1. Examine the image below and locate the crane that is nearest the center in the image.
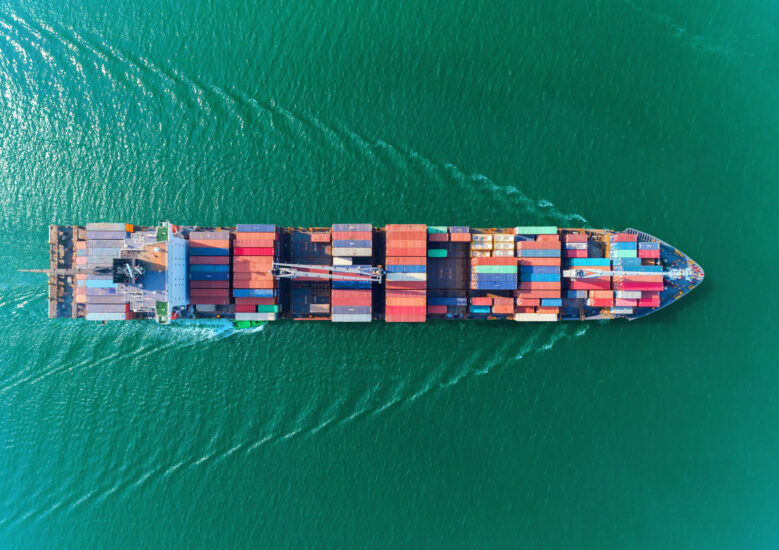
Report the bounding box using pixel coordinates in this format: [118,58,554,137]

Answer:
[272,262,386,283]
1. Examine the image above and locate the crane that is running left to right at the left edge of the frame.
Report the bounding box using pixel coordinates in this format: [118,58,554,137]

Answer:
[14,265,111,277]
